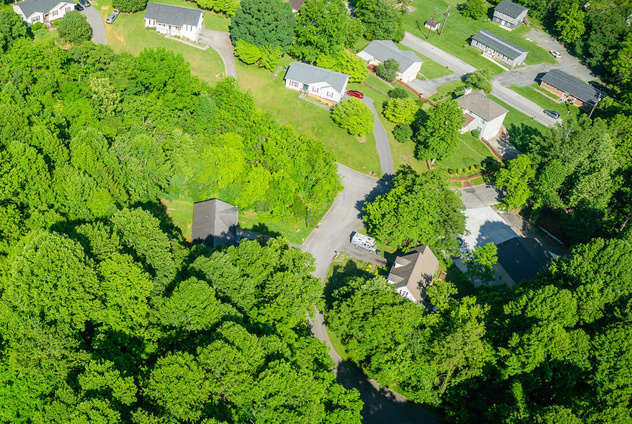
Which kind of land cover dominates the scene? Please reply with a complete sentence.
The scene is dominated by trees.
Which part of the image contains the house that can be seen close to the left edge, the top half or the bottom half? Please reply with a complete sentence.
You can find the house that can be seen close to the left edge in the top half.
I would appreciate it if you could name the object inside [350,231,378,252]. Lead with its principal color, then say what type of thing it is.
white vehicle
